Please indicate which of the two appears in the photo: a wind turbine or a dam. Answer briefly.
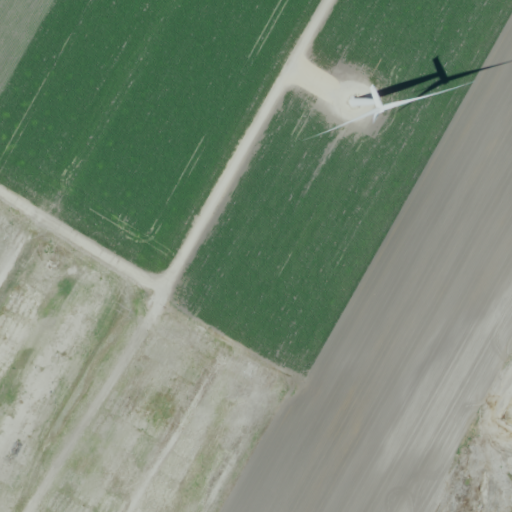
wind turbine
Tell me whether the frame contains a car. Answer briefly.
No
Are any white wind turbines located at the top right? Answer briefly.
Yes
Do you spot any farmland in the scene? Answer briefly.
Yes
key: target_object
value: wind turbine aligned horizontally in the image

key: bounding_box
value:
[304,83,474,142]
